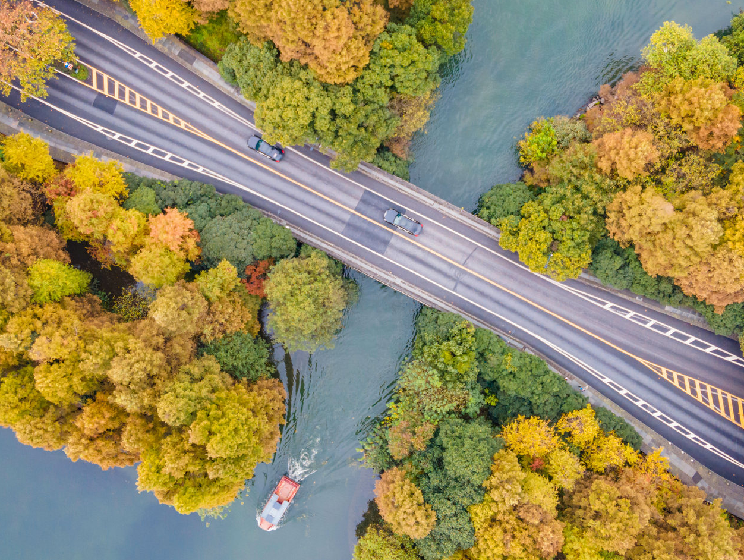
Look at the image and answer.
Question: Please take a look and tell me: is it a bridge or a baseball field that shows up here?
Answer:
bridge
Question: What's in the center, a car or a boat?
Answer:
car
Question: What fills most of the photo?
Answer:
trees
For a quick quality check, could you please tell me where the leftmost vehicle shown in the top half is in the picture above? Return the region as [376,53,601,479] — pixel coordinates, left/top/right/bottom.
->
[246,134,286,163]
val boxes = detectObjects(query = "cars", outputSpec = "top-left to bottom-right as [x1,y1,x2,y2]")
[246,134,286,163]
[383,207,424,237]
